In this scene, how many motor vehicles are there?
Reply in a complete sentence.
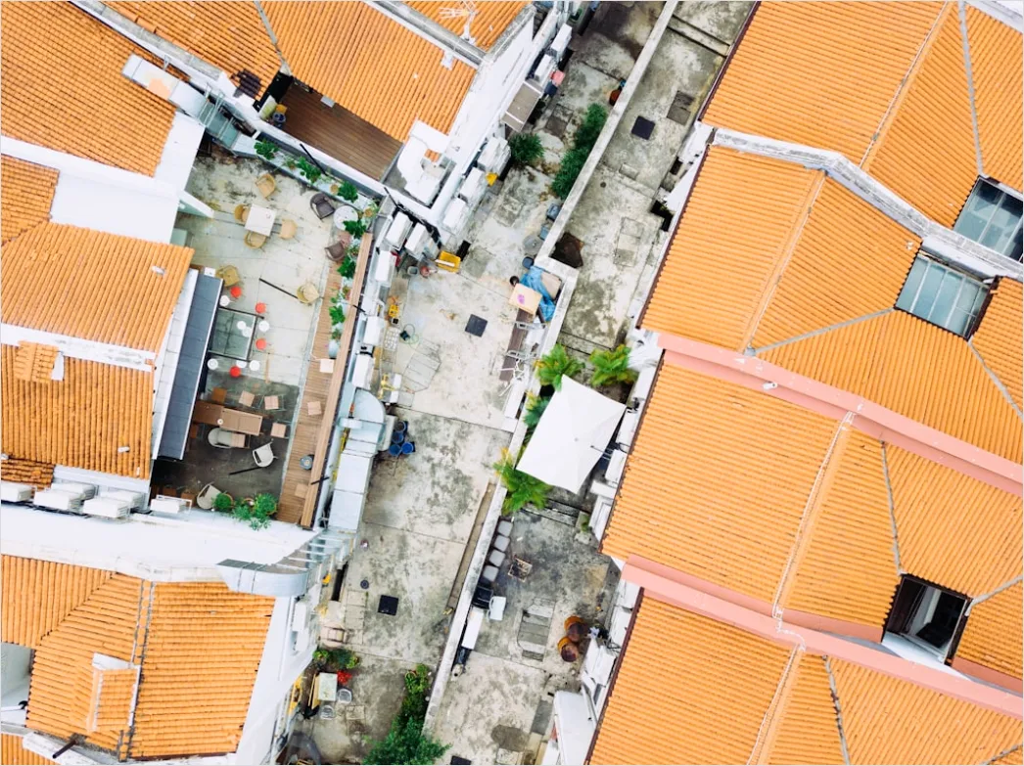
I count no motor vehicles.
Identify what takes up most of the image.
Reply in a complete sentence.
The bulk of the photo consists of buildings.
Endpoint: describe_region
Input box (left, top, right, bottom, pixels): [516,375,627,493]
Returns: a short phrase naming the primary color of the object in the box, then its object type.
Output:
white umbrella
